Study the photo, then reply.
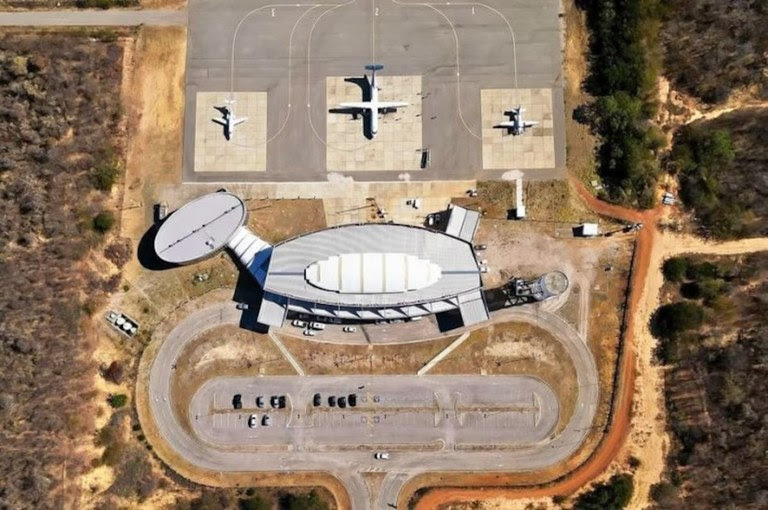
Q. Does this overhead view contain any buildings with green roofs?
No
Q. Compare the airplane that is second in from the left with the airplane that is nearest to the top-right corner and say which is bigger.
the airplane that is second in from the left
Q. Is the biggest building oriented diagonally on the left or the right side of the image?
left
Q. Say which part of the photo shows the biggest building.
center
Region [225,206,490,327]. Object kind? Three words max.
building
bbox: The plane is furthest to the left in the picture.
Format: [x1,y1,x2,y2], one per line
[212,100,248,139]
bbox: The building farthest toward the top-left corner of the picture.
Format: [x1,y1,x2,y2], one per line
[154,190,246,262]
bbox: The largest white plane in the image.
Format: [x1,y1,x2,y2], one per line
[339,67,410,139]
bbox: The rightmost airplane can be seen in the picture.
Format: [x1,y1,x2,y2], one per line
[501,103,540,134]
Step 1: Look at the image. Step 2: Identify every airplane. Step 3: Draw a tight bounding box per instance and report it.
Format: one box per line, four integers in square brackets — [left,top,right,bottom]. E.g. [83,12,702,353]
[501,103,540,134]
[212,100,248,139]
[339,67,410,139]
